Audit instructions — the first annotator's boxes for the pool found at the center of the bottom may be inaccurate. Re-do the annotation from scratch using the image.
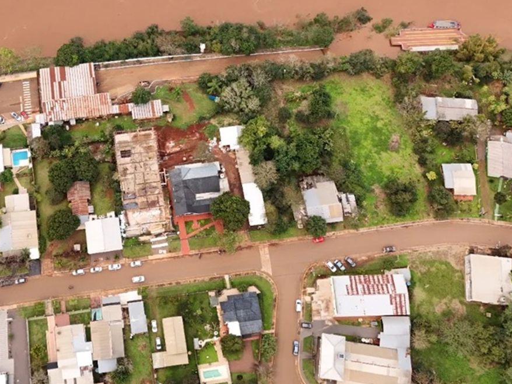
[201,365,231,383]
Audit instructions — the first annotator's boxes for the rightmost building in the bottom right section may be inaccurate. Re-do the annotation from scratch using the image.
[458,254,512,308]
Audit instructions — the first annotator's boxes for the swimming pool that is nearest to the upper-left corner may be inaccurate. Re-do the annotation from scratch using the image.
[11,149,31,167]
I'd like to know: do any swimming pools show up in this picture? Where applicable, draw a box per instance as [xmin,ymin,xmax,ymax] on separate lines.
[11,149,31,167]
[201,365,231,383]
